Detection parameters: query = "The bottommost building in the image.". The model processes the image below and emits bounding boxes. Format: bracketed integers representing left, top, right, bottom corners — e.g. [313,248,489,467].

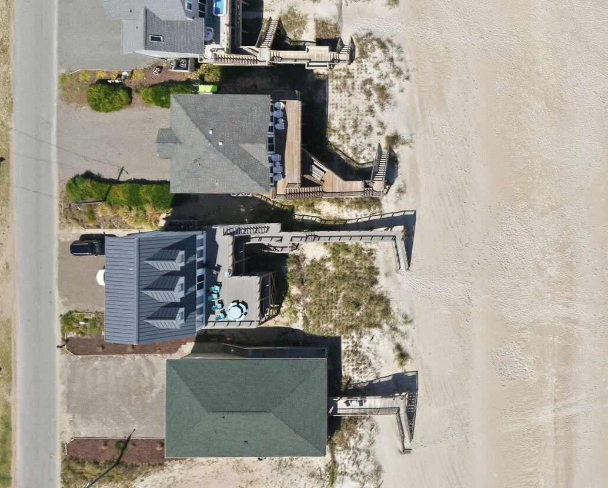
[165,353,333,457]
